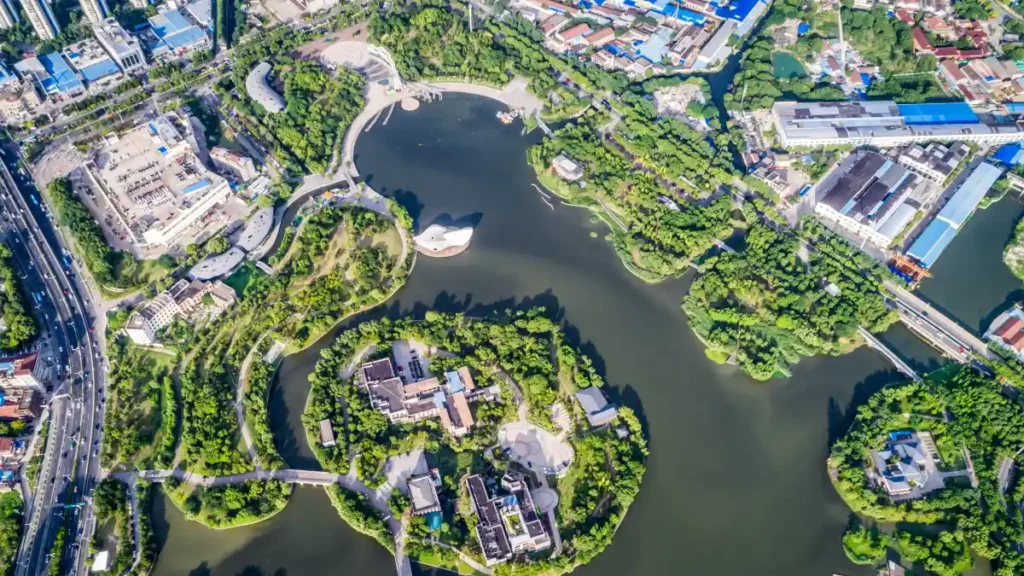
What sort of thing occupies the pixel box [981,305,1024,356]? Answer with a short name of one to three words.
house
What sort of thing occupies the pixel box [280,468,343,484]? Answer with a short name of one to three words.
bridge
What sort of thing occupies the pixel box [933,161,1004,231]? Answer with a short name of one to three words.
shed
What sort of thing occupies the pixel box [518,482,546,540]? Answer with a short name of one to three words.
building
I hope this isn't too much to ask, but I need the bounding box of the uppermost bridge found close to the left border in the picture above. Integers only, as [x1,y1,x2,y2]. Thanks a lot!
[0,155,87,334]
